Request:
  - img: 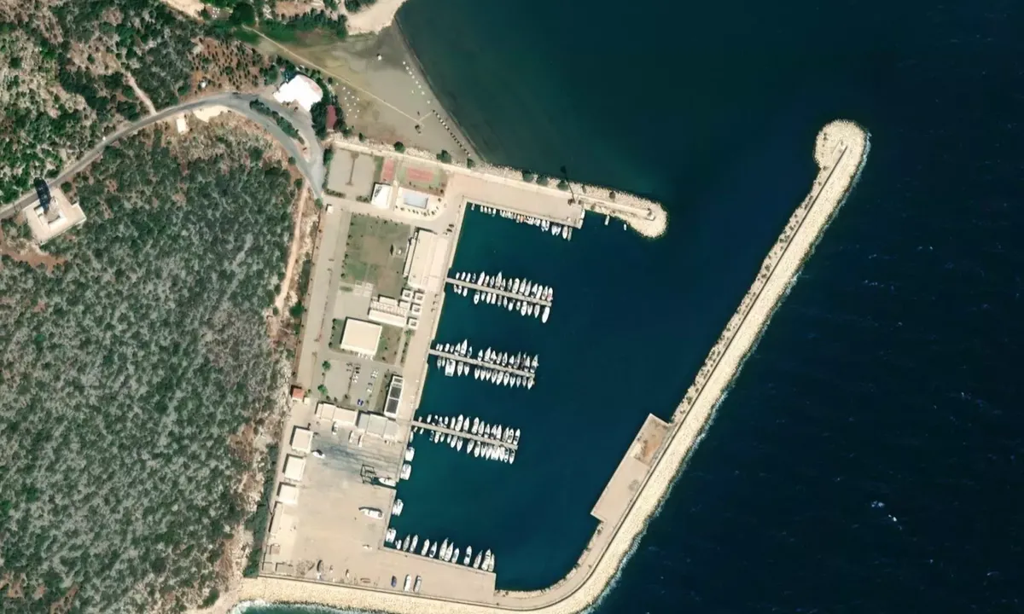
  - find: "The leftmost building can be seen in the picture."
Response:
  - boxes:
[24,188,87,245]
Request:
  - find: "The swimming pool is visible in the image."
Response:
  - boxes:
[394,187,444,220]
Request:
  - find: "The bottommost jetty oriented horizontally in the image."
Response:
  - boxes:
[411,420,518,450]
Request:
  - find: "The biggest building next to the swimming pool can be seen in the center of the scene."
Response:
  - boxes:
[408,230,448,290]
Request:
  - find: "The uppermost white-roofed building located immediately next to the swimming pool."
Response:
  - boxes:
[372,183,393,209]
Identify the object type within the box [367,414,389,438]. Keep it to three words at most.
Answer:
building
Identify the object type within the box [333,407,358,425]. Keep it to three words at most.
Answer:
building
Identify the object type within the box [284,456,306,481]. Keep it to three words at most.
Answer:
shed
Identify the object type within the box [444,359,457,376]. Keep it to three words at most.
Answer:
boat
